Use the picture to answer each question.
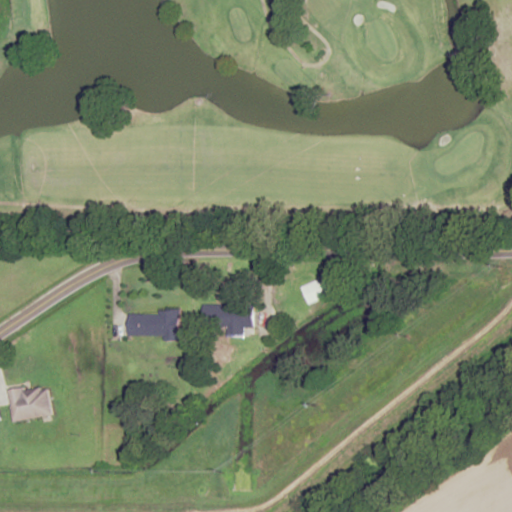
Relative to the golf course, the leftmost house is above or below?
below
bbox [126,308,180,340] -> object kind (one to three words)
house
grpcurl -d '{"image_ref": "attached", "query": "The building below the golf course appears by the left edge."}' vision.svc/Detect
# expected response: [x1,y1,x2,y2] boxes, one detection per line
[6,382,52,422]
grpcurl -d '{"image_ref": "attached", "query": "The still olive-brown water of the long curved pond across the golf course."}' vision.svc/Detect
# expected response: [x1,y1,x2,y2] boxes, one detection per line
[0,0,482,149]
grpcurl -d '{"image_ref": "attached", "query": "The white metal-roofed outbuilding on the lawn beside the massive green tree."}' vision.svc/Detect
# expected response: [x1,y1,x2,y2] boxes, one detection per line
[301,280,322,306]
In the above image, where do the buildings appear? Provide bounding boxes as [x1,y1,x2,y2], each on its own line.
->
[126,308,180,340]
[6,382,52,422]
[301,280,322,306]
[202,304,256,338]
